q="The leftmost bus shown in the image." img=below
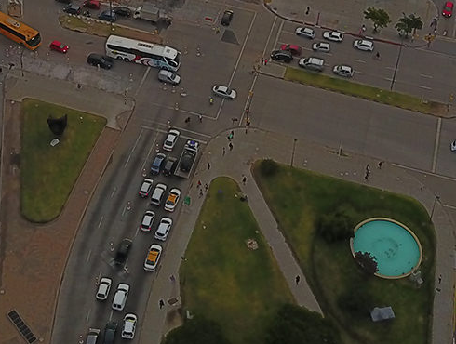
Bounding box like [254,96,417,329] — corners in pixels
[0,6,40,48]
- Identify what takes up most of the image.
paved ground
